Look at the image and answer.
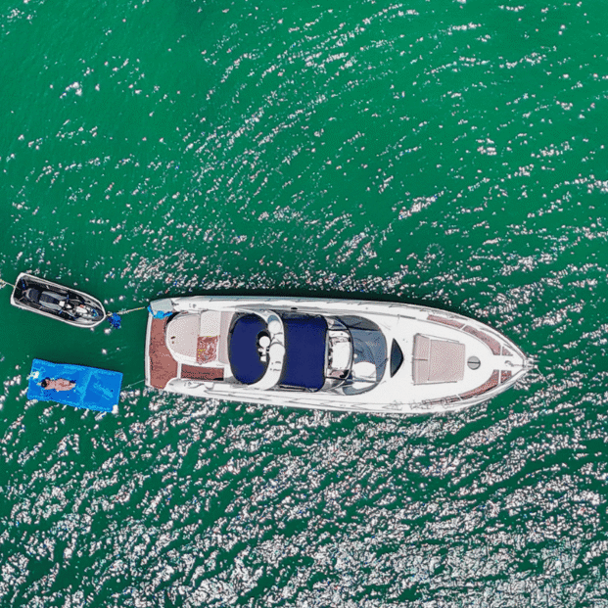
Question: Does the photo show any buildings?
No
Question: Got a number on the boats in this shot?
2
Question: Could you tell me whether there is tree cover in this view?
No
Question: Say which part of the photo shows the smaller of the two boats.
left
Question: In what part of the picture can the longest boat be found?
center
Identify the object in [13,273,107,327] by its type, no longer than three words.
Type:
boat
